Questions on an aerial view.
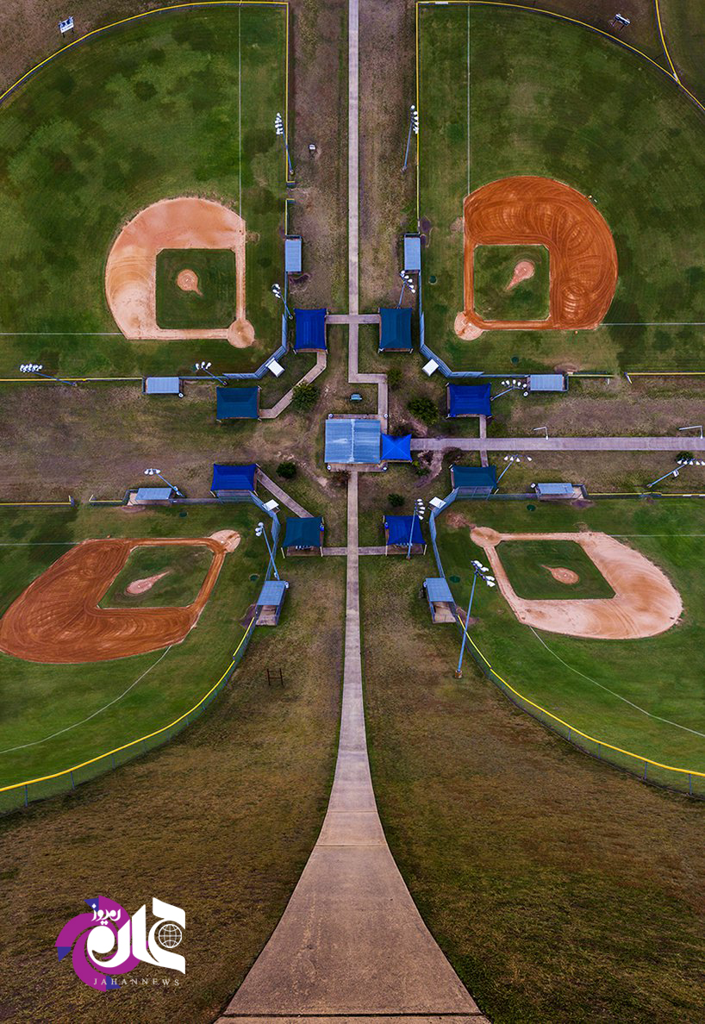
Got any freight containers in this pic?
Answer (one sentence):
No, there isn't any freight container down there.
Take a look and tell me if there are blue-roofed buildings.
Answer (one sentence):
Yes, the frame does contain a blue-roofed building.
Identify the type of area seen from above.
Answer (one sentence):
The picture captures a sports ground.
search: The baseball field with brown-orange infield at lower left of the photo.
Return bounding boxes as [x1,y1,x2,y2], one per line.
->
[0,502,277,812]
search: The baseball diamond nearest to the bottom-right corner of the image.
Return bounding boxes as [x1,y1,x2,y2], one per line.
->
[433,498,705,798]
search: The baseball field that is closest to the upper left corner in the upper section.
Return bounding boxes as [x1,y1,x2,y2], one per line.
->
[0,7,287,379]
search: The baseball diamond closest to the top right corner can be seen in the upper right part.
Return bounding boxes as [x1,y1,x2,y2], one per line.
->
[417,7,705,376]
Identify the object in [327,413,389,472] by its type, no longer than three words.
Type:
building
